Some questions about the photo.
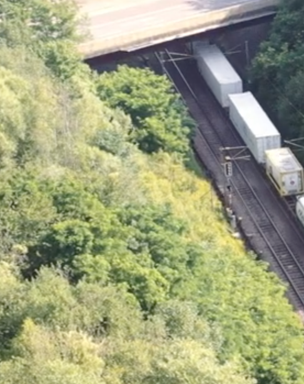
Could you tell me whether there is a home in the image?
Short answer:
No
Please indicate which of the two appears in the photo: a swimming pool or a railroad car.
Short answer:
railroad car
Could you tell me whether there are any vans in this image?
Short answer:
No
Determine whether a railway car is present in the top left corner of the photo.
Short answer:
No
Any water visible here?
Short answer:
No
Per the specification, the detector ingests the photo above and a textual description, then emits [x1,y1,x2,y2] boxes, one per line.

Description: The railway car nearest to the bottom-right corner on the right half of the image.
[265,167,304,229]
